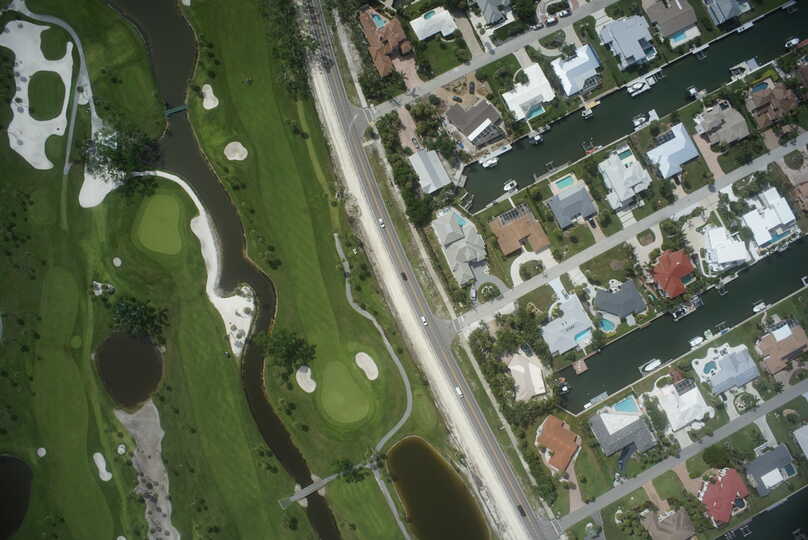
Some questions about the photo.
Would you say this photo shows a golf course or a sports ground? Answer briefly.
golf course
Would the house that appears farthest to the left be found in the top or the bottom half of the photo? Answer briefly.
top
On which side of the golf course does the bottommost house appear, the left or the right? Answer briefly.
to the right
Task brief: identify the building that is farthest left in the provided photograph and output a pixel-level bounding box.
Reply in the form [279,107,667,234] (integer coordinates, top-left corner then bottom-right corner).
[362,8,412,77]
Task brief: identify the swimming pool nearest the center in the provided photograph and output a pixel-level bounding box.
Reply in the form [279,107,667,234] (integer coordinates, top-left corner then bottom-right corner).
[441,206,474,231]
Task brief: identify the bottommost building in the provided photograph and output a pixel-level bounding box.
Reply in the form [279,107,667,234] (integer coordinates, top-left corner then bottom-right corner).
[641,508,697,540]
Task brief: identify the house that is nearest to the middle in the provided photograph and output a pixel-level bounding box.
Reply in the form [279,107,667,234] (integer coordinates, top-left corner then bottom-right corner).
[432,212,488,287]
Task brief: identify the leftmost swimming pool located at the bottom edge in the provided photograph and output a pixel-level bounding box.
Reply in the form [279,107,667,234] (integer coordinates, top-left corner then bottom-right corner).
[732,497,748,513]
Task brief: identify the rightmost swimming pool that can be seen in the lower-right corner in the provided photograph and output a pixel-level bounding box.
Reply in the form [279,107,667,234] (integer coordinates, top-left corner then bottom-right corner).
[783,462,798,479]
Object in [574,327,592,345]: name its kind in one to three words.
swimming pool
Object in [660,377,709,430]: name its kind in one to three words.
house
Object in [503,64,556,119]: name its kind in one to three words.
house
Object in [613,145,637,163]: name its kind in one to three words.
swimming pool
